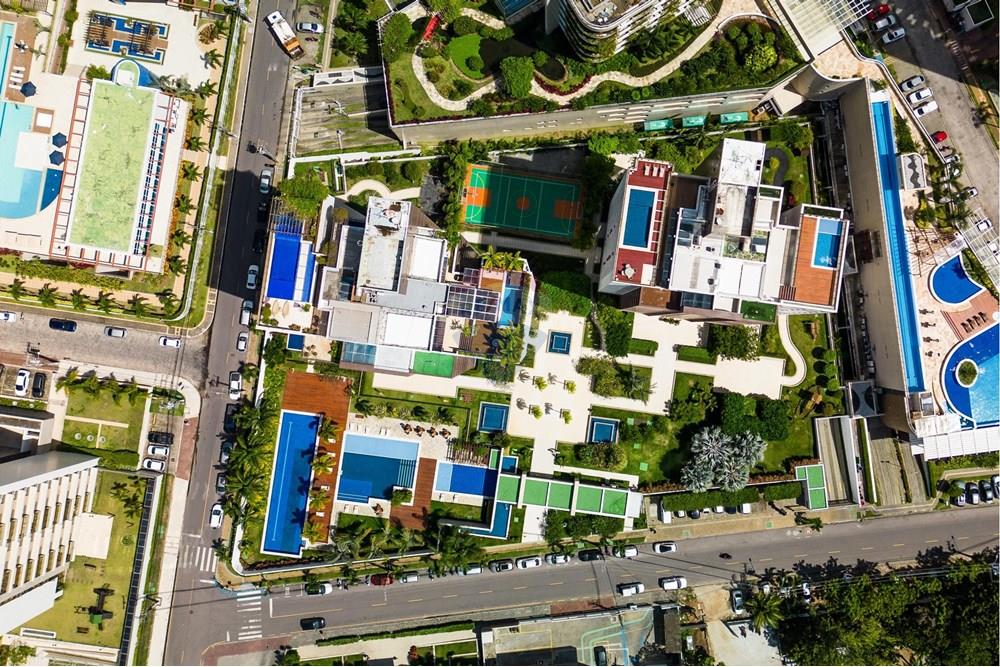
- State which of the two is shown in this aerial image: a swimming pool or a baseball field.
swimming pool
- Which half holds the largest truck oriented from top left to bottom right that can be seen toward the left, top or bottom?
top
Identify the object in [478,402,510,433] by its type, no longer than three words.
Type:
swimming pool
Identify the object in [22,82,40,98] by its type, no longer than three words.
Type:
umbrella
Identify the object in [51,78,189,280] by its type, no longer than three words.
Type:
building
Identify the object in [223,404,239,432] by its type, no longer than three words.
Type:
car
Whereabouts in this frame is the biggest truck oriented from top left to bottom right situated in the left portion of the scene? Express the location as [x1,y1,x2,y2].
[264,10,307,63]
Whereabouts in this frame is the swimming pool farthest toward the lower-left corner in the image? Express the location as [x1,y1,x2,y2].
[261,408,321,558]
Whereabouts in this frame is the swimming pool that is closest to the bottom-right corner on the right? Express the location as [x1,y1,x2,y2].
[941,322,1000,429]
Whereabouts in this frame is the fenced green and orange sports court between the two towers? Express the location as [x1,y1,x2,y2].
[455,153,591,242]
